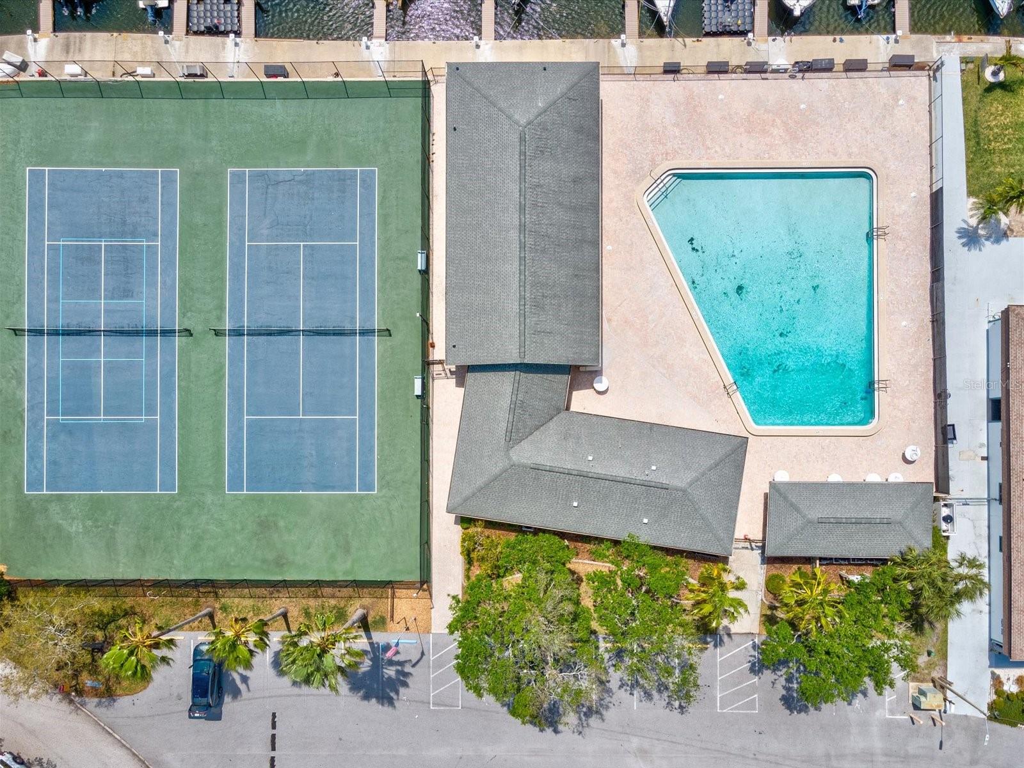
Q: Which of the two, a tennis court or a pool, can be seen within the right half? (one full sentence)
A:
Looking within the right half, you will find a pool.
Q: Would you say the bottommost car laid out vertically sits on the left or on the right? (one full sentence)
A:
You can find the bottommost car laid out vertically on the left side of the picture.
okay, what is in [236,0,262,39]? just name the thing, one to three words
pier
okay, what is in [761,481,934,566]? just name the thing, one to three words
building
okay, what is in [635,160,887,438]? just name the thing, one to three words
swimming pool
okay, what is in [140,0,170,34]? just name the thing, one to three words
boat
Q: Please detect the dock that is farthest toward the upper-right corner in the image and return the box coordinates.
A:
[885,0,915,34]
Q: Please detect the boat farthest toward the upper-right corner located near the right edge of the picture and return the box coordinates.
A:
[988,0,1010,22]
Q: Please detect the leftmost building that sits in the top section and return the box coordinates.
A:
[445,61,606,369]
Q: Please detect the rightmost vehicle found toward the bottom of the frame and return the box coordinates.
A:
[187,644,222,717]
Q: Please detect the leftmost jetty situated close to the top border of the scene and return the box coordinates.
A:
[33,0,64,33]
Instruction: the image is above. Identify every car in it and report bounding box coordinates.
[187,644,222,717]
[0,750,34,768]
